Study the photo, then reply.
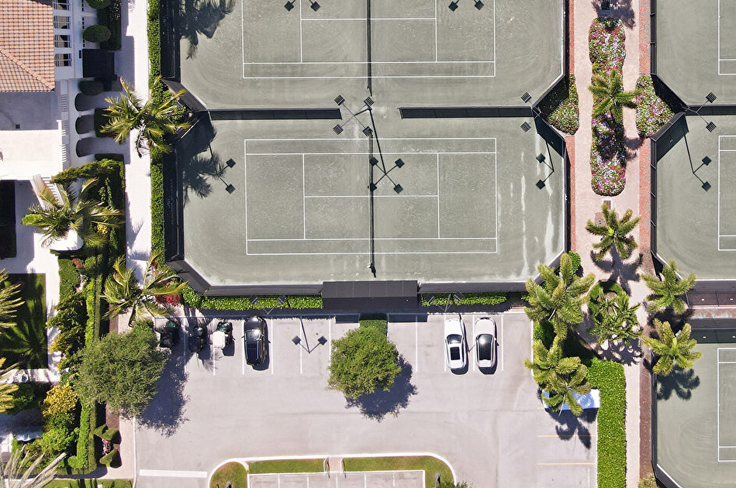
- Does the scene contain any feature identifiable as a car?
Yes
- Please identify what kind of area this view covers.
sports ground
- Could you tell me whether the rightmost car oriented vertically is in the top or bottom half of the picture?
bottom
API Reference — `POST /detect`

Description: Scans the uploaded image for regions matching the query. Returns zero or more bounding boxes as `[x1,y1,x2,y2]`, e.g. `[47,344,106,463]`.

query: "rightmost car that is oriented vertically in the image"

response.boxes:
[473,316,497,368]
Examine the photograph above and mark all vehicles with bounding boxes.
[213,320,233,352]
[242,314,270,366]
[443,316,468,368]
[473,316,497,368]
[157,320,180,352]
[190,322,210,354]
